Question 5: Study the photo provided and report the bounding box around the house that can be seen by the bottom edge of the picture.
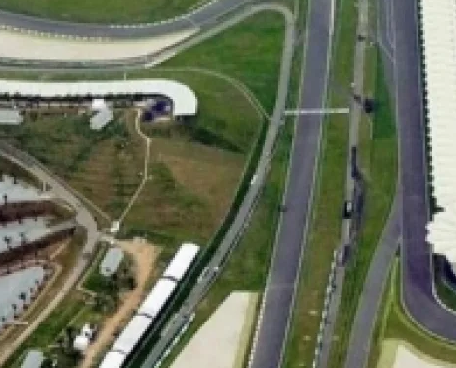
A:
[20,348,43,368]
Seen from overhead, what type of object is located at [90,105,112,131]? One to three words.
house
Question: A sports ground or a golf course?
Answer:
sports ground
